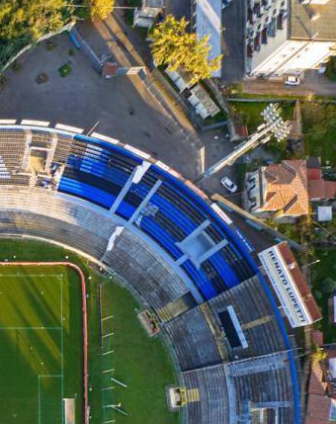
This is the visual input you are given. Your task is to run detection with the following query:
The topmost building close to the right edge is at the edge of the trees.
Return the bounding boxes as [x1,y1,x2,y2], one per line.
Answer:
[247,0,336,78]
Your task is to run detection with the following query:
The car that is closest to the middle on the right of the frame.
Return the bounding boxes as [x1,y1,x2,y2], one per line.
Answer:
[221,174,239,192]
